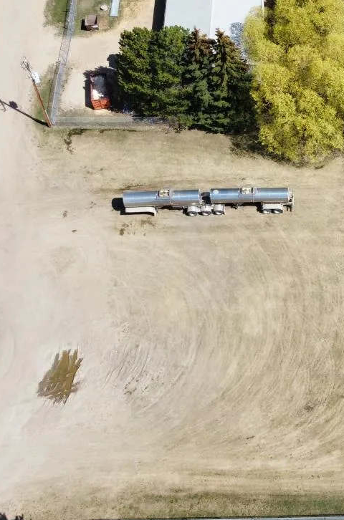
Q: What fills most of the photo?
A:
paved ground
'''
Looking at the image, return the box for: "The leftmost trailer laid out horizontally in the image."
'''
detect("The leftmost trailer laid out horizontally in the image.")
[121,183,224,216]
